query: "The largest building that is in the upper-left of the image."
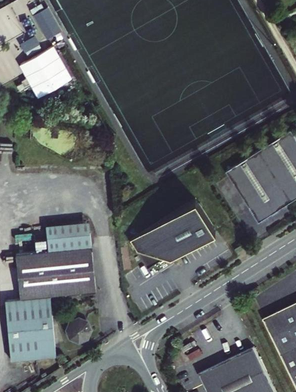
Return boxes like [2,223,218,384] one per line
[20,46,75,98]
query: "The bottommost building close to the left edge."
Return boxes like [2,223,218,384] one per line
[6,298,58,362]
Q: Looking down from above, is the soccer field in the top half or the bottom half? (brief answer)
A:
top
